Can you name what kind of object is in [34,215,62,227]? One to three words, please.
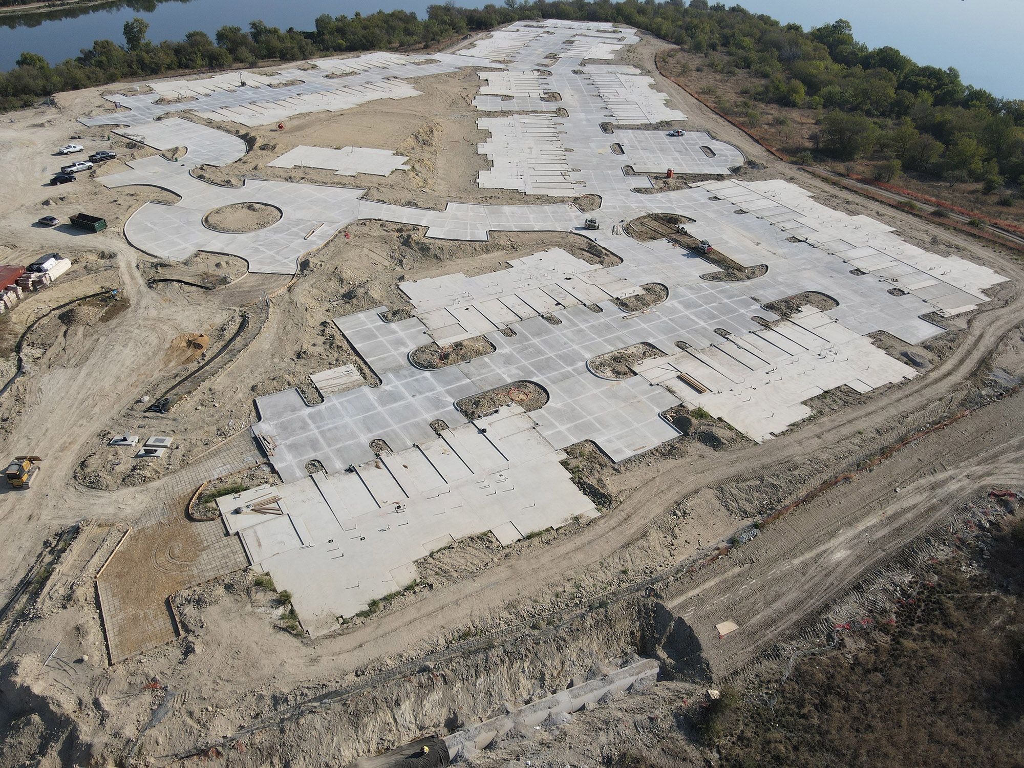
vehicle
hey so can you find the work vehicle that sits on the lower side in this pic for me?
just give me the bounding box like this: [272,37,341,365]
[0,454,51,496]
